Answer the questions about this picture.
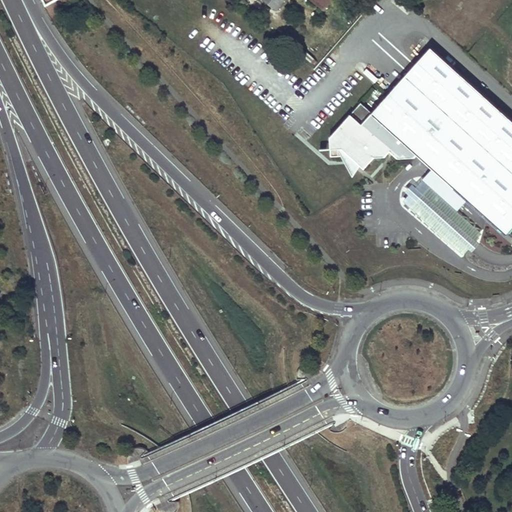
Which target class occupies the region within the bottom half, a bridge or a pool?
bridge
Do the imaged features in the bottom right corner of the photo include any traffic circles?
Yes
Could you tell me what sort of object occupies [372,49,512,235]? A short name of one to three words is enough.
building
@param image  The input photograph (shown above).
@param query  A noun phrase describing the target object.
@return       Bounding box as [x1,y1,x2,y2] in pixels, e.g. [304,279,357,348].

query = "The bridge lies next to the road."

[142,380,334,503]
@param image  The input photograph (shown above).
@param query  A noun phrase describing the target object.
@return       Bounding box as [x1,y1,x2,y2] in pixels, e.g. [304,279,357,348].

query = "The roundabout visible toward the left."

[0,447,170,512]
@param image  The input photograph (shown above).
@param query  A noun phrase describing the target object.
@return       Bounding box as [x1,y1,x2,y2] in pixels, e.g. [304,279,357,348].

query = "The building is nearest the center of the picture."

[320,114,388,178]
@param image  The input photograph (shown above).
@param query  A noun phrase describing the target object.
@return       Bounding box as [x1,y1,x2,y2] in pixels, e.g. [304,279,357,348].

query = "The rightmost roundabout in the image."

[306,286,512,512]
